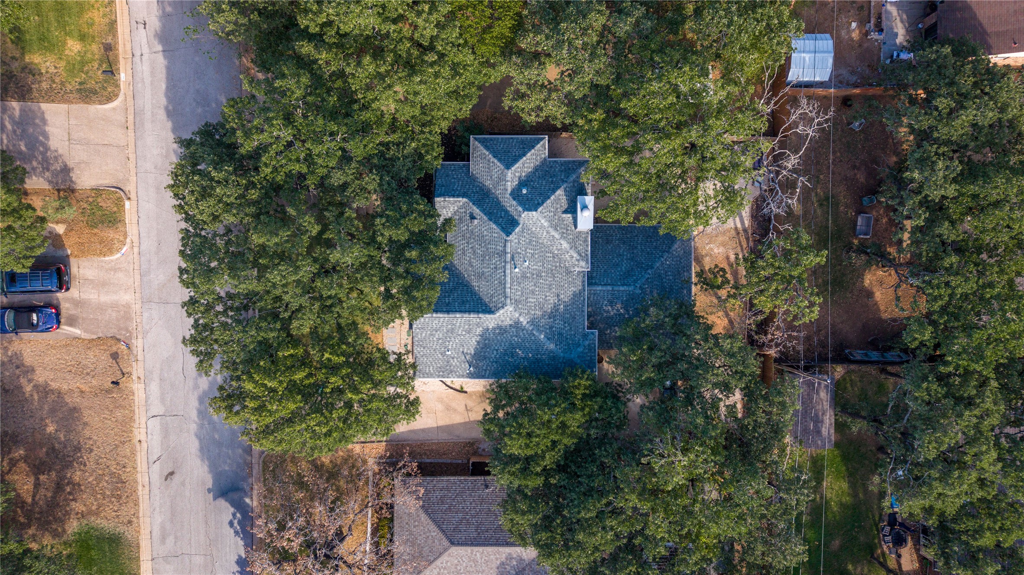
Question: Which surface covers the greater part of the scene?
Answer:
trees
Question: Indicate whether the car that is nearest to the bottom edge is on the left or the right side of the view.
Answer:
left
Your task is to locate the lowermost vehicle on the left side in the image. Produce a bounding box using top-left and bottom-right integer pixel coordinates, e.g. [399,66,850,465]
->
[0,303,63,336]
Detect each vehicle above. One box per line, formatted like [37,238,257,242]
[0,303,63,336]
[0,264,75,299]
